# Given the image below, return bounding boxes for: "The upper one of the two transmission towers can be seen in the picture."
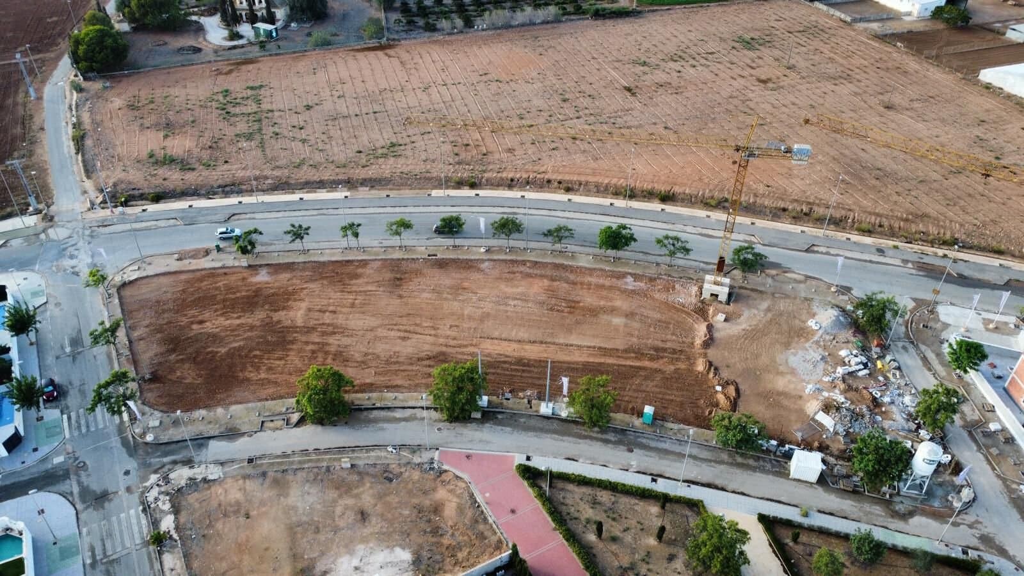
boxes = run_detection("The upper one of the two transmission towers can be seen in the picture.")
[15,56,39,98]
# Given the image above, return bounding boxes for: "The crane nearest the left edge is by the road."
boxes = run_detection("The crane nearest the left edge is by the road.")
[400,113,824,275]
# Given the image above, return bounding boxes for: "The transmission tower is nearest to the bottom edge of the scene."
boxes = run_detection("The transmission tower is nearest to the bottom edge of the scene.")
[3,157,41,211]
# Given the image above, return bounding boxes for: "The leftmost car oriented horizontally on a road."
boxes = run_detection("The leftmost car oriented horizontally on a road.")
[211,227,243,240]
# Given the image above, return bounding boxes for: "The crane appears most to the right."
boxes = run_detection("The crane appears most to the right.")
[799,109,1024,186]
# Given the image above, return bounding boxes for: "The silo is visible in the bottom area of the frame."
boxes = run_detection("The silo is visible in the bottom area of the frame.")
[900,441,947,496]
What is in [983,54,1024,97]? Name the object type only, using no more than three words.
greenhouse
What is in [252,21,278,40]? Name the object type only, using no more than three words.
building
